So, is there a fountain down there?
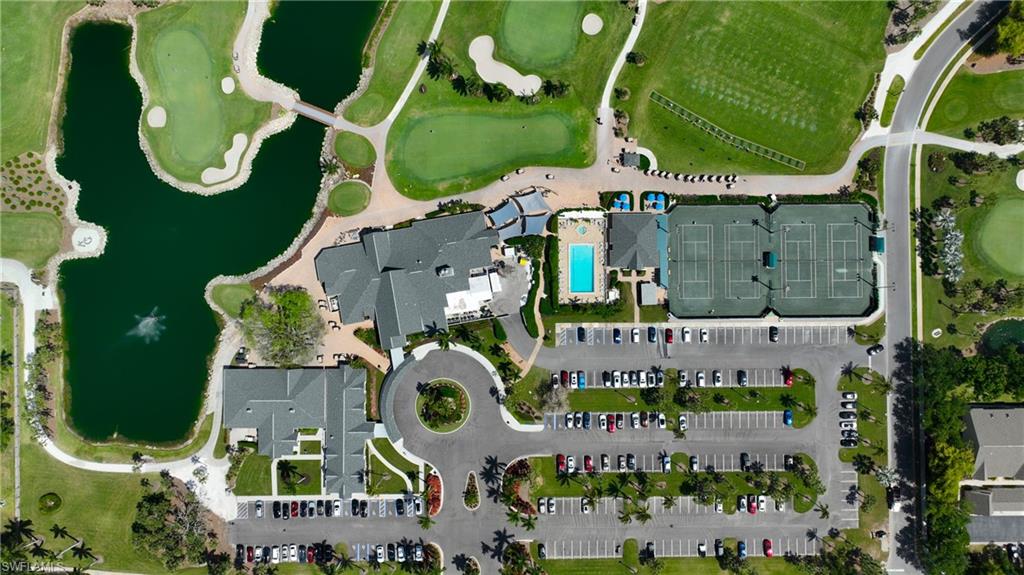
Yes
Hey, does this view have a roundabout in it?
Yes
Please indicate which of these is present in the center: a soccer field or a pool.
pool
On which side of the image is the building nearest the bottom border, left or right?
right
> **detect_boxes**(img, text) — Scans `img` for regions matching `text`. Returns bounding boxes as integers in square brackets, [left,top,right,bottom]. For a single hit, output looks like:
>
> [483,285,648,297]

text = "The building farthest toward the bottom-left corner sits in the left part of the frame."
[224,366,375,499]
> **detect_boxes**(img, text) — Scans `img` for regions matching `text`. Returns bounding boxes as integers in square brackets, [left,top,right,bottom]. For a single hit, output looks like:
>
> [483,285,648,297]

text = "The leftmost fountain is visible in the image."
[131,310,164,338]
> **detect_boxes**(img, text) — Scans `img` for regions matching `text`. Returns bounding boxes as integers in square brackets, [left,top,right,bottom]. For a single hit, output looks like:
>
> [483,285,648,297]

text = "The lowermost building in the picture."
[959,486,1024,515]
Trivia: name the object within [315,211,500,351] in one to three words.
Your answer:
building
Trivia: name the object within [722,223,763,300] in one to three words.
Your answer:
tennis court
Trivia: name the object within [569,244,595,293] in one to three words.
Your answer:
swimming pool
